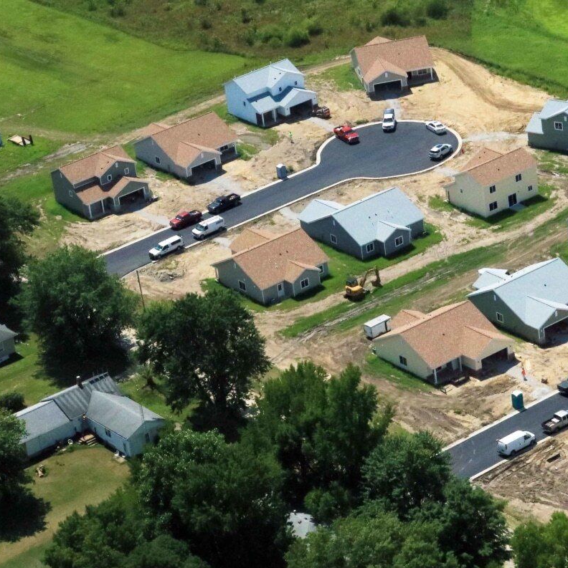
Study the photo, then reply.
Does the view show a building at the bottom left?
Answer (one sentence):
Yes, at the bottom left there is a building.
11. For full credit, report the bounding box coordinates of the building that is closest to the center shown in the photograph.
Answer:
[210,228,330,303]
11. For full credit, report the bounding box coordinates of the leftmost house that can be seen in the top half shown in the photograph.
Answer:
[49,144,150,217]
